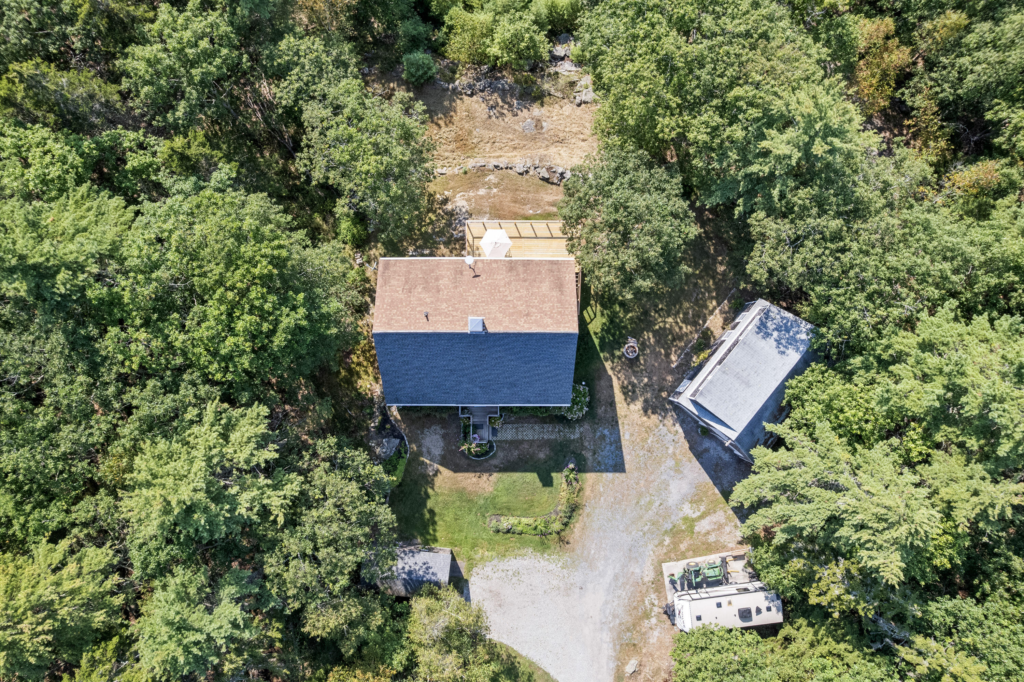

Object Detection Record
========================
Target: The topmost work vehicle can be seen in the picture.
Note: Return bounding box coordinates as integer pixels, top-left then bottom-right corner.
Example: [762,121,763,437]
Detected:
[670,555,736,587]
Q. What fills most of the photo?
trees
